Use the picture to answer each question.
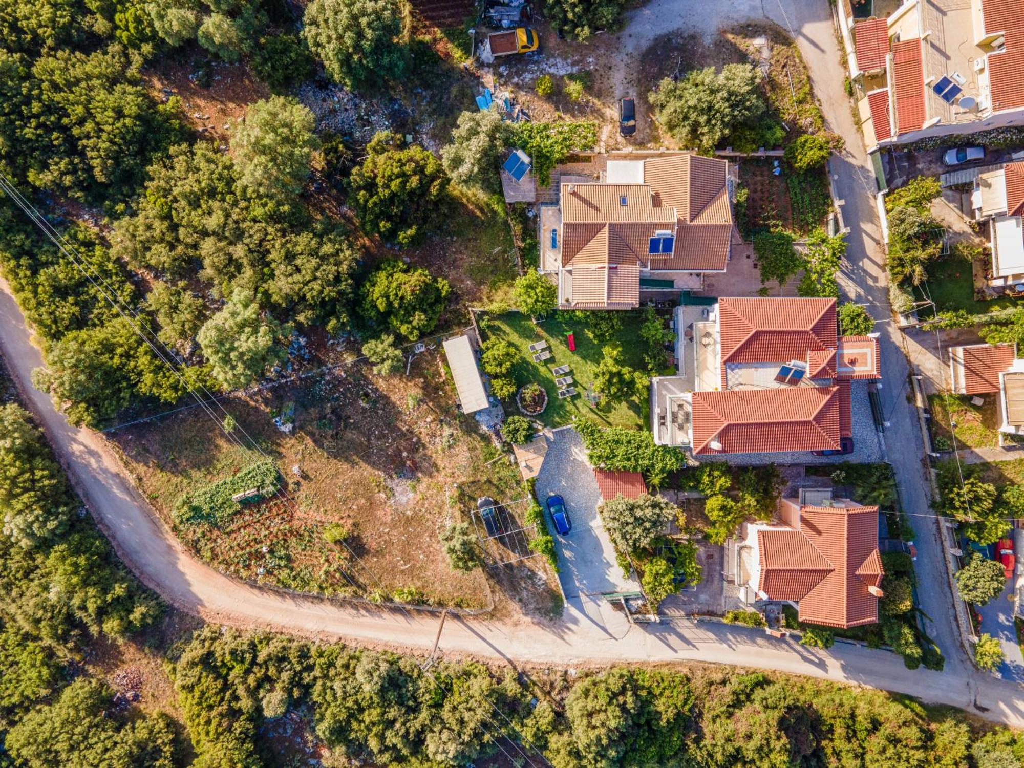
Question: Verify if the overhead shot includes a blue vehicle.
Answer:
Yes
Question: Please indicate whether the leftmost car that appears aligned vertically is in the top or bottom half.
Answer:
bottom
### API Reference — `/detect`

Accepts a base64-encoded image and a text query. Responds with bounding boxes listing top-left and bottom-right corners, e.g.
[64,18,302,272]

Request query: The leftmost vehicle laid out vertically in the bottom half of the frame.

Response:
[479,496,502,538]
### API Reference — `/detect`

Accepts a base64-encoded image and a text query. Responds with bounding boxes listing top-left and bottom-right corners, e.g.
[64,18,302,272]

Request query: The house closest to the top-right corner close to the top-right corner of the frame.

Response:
[847,0,1024,148]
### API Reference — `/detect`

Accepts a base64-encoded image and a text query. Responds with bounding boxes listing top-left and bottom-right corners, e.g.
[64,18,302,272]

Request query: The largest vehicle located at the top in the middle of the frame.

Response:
[487,26,540,56]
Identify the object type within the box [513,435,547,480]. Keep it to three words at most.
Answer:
shed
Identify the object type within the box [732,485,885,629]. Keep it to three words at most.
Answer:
house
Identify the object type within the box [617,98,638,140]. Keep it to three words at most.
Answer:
car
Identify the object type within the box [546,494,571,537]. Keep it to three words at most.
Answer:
car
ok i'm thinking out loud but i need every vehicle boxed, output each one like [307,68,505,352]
[1011,149,1024,162]
[487,26,540,56]
[940,145,985,168]
[811,437,854,457]
[546,494,571,537]
[479,496,502,538]
[993,539,1017,578]
[617,98,638,140]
